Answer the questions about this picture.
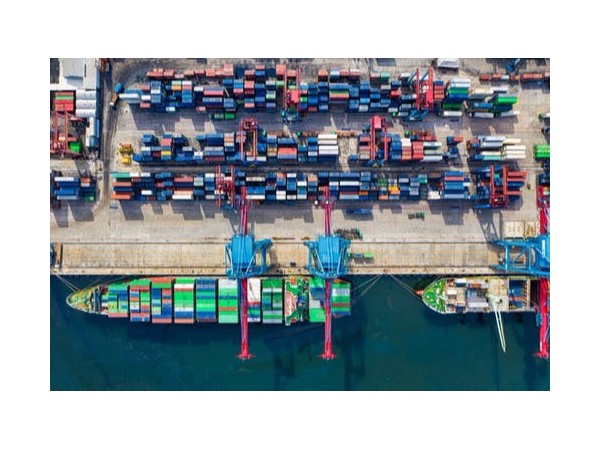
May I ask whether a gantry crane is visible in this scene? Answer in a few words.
Yes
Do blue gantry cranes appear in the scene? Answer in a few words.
Yes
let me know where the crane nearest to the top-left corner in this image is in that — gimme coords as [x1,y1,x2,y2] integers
[53,111,90,161]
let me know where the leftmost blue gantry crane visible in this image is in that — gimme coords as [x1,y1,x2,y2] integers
[228,186,276,362]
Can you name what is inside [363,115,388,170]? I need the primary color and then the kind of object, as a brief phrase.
red container crane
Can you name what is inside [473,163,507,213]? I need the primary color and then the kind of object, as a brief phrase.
red container crane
